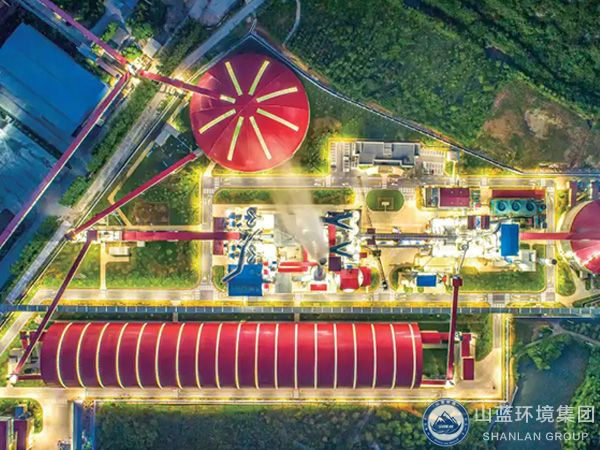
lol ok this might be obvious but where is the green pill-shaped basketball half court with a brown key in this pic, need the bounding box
[366,186,404,212]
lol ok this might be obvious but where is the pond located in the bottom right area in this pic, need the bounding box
[492,335,591,450]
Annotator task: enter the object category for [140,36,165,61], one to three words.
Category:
house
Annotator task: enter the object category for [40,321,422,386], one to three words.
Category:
building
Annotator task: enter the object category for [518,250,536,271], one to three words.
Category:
house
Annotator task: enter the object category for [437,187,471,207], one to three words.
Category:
building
